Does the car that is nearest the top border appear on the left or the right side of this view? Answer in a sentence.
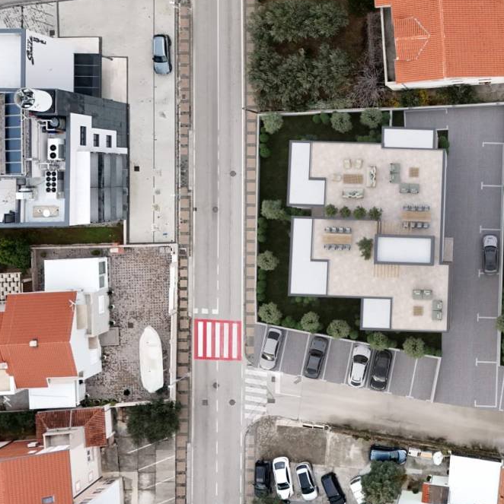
You can find the car that is nearest the top border on the left side of the picture.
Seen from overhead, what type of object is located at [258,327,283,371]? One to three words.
car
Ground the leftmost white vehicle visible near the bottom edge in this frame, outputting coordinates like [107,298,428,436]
[273,456,294,499]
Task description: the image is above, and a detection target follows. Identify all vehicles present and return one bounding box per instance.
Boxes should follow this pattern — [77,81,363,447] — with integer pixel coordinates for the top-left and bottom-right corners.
[348,345,372,389]
[273,456,294,499]
[258,327,283,371]
[253,459,272,496]
[150,32,172,75]
[348,473,376,504]
[370,349,392,392]
[480,233,499,275]
[321,471,346,504]
[296,461,319,500]
[305,336,328,379]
